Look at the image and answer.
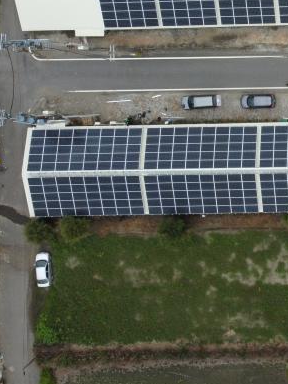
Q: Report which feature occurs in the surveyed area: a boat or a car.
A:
car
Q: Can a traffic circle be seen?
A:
No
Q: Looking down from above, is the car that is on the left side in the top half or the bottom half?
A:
bottom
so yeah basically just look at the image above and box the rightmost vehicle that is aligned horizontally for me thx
[241,93,276,110]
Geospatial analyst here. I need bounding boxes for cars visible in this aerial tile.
[241,93,276,110]
[33,250,53,288]
[183,93,222,110]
